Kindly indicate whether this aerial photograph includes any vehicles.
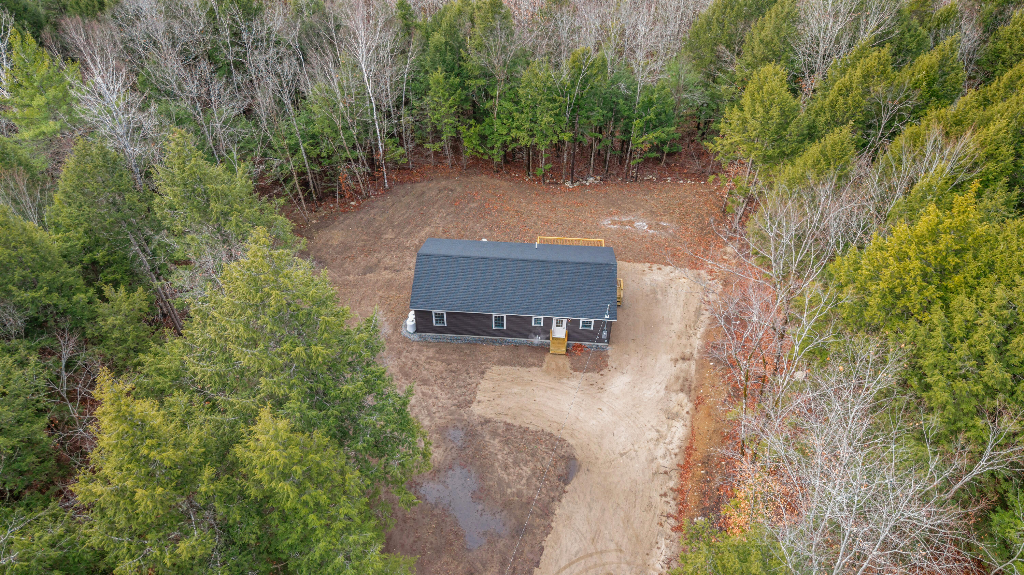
No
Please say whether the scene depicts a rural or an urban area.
rural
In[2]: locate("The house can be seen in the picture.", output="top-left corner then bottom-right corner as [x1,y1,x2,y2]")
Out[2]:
[409,238,618,345]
